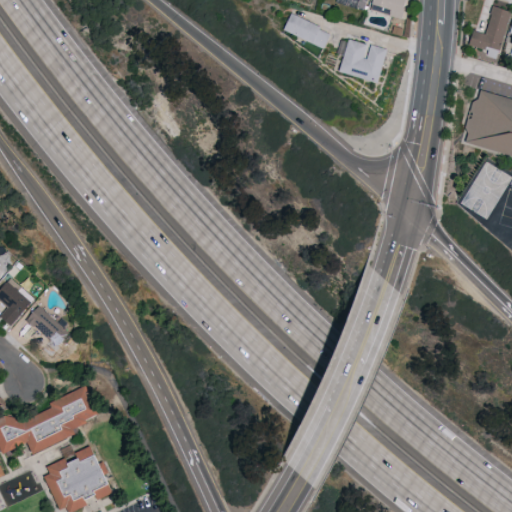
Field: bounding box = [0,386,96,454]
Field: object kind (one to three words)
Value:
building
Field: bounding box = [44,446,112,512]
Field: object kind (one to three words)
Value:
building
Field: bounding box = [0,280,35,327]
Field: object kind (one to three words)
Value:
house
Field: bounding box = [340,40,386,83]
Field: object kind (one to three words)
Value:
house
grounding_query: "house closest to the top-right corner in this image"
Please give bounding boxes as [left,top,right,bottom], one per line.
[470,5,512,59]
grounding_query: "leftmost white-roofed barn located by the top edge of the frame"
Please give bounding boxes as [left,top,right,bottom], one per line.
[284,13,331,48]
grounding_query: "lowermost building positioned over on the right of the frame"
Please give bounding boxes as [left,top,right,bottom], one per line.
[464,90,512,156]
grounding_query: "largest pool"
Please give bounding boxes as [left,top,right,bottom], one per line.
[47,291,67,310]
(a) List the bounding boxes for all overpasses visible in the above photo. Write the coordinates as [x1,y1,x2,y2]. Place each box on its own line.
[282,256,408,491]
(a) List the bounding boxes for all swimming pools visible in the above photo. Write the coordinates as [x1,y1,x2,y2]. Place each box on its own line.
[369,16,388,27]
[47,291,67,310]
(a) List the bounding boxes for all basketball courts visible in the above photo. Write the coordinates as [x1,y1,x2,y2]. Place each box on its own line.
[462,162,512,219]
